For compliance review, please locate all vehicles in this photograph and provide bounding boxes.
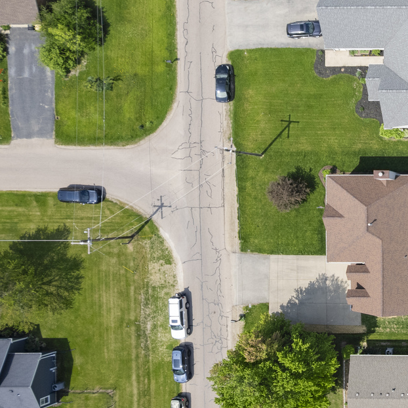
[287,20,323,38]
[170,393,190,408]
[215,64,235,103]
[169,346,190,382]
[57,185,107,205]
[166,293,189,338]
